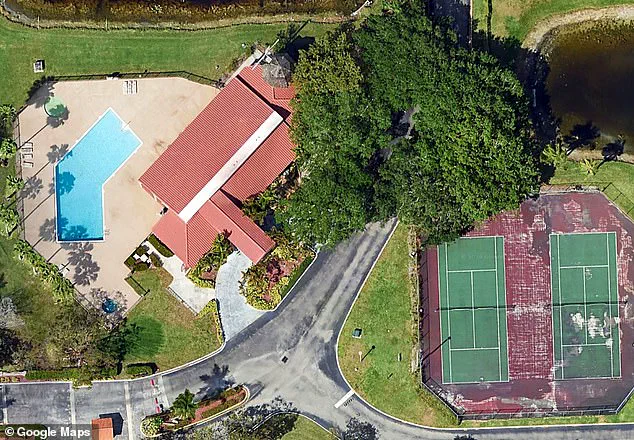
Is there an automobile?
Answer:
No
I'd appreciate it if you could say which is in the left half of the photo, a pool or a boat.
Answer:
pool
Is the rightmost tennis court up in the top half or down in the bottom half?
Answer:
bottom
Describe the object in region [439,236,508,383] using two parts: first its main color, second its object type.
green tennis court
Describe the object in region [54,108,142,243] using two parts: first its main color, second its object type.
blue swimming pool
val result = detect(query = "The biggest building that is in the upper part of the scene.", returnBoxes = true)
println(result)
[139,62,316,269]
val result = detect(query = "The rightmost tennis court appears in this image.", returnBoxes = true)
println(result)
[550,232,620,379]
